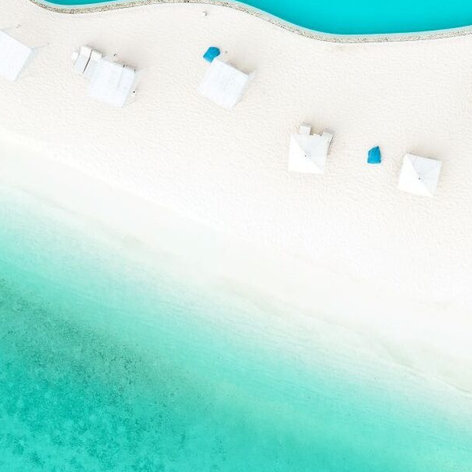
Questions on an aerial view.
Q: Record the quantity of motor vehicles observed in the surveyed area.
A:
none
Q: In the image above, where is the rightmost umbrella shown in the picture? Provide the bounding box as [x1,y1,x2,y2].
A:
[397,153,442,198]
